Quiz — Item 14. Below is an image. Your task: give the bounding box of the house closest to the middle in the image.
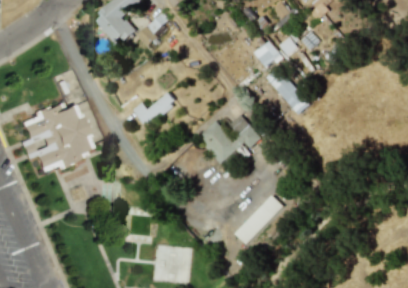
[201,114,258,160]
